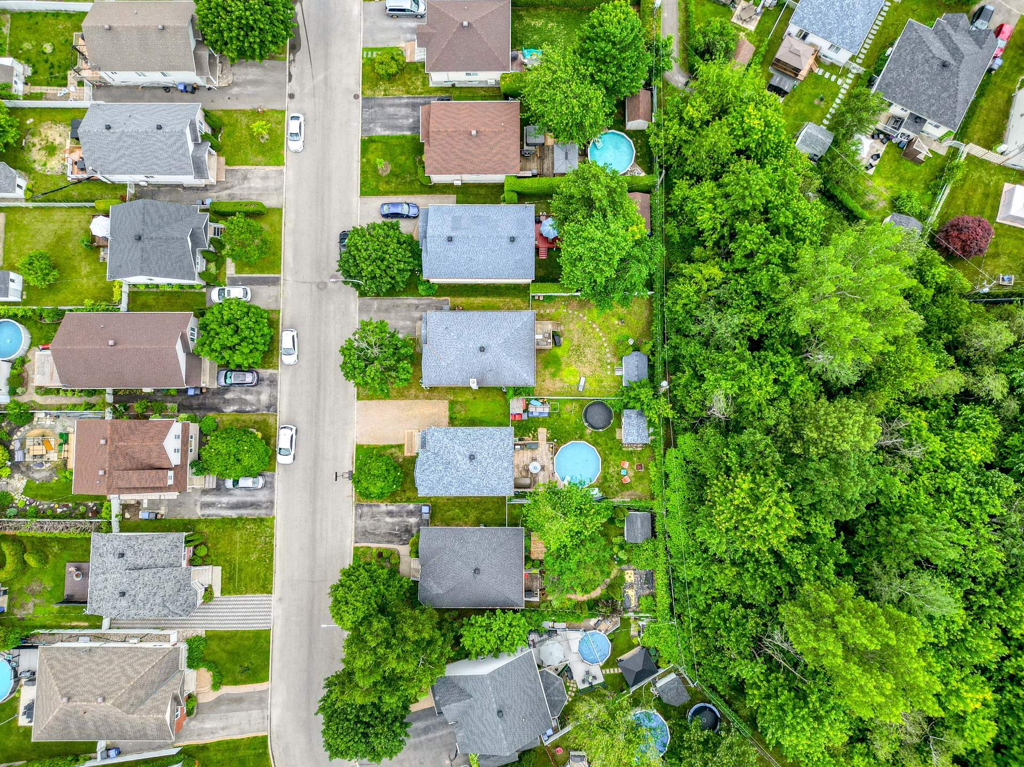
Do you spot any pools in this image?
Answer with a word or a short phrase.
Yes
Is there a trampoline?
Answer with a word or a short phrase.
Yes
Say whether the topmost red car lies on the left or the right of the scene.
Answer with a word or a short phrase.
right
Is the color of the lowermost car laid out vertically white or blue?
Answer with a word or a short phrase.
white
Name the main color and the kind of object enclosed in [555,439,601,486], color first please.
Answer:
blue swimming pool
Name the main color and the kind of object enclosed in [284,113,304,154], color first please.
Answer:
white car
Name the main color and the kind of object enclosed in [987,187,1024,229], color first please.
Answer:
white gazebo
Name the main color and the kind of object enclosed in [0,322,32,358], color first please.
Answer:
blue swimming pool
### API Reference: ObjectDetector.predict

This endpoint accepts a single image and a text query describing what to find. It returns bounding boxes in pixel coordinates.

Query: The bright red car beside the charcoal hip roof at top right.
[991,22,1018,61]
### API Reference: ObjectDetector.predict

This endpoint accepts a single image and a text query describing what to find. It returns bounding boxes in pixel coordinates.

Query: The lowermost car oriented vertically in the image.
[276,424,296,464]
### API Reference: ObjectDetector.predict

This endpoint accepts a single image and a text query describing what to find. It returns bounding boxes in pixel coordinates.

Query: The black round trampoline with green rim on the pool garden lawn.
[582,400,613,431]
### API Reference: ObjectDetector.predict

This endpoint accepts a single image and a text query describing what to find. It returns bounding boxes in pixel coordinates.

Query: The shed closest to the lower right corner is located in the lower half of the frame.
[655,670,691,708]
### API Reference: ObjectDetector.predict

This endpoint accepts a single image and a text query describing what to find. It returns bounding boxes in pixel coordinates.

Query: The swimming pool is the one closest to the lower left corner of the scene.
[0,659,20,697]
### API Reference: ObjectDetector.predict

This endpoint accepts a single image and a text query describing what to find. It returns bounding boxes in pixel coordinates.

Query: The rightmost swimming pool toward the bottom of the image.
[627,706,670,752]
